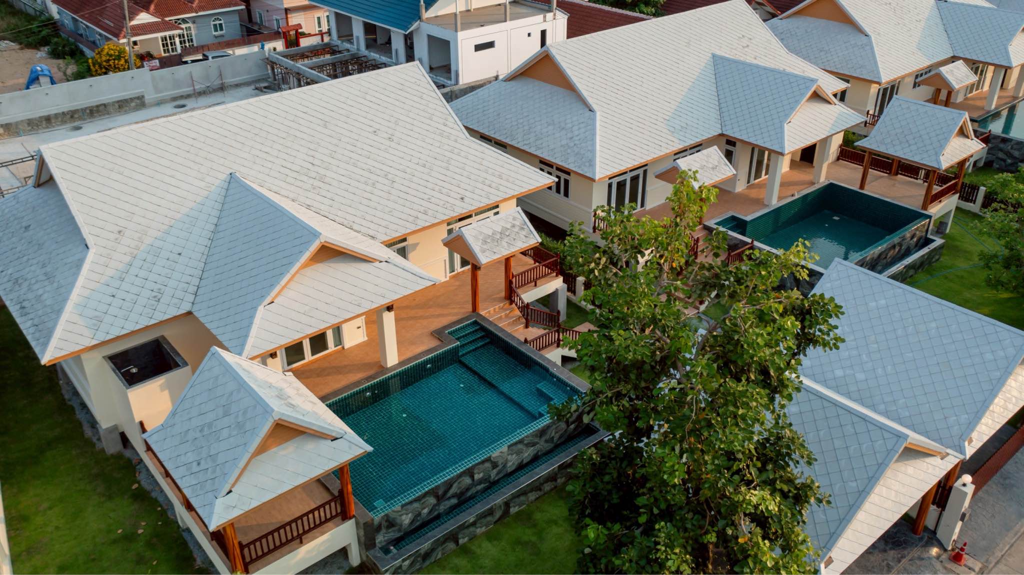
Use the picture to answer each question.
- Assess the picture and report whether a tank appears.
No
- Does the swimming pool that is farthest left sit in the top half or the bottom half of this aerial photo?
bottom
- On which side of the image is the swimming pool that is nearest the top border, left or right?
right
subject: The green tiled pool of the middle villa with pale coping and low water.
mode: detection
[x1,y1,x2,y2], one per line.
[703,179,949,306]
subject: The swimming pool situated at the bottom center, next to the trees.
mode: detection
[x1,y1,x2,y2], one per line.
[319,314,610,575]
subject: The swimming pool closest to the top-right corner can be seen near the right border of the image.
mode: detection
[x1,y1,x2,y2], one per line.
[978,98,1024,175]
